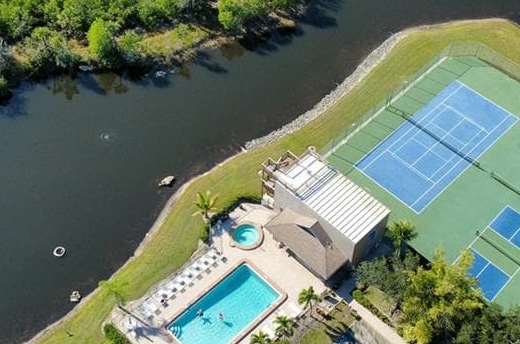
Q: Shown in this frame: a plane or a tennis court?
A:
tennis court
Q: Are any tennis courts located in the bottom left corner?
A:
No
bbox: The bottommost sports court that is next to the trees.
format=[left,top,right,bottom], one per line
[451,205,520,300]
